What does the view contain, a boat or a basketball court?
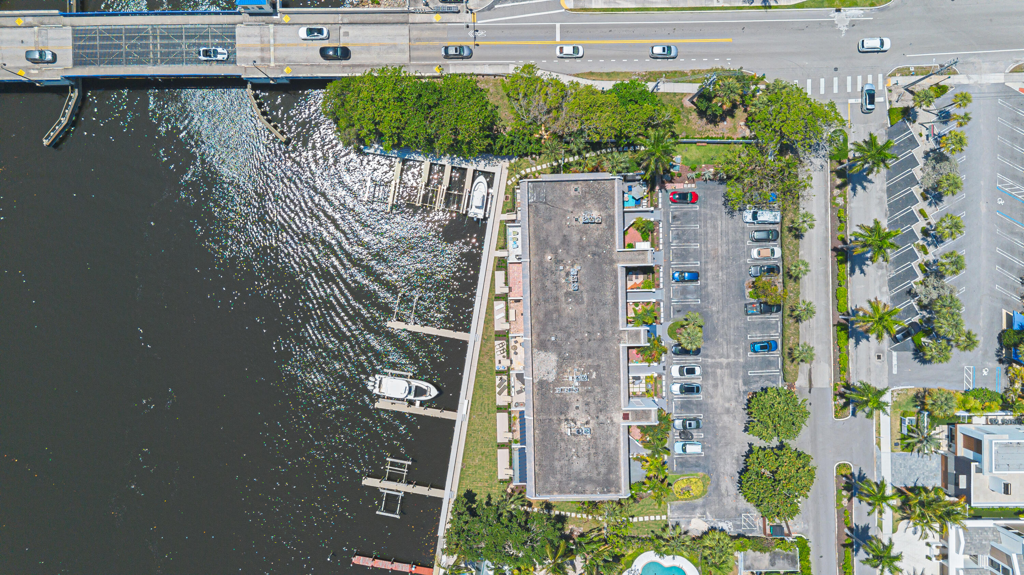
boat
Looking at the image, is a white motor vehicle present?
Yes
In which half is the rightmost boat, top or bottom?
top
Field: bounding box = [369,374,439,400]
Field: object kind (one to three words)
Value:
boat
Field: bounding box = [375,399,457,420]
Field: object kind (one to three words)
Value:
pier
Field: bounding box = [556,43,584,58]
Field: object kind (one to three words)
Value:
car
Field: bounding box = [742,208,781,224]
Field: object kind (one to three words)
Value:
vehicle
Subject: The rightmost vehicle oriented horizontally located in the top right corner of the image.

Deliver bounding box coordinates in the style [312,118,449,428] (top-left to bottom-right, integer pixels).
[857,35,890,51]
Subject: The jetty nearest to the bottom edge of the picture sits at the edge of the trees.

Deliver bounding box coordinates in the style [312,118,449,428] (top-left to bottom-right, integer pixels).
[350,551,434,575]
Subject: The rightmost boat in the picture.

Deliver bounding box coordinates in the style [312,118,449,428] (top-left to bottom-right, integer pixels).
[468,176,488,224]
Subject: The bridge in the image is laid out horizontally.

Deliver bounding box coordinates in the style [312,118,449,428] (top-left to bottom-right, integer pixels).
[0,8,472,85]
